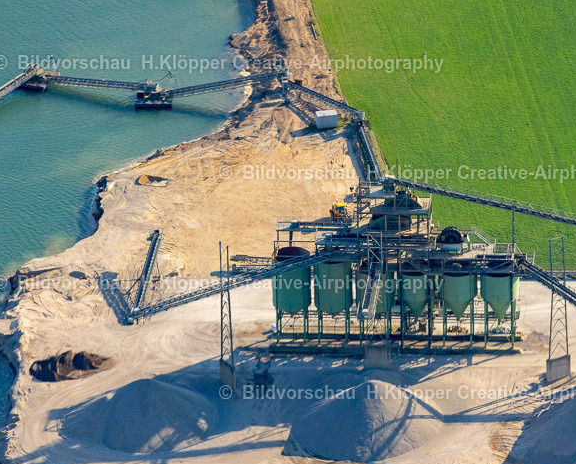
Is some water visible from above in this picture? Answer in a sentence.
Yes, there's water in this view.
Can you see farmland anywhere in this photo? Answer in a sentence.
Yes, farmland can be seen from above here.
